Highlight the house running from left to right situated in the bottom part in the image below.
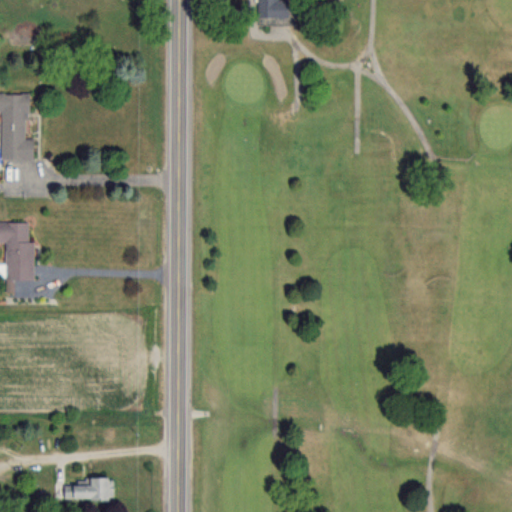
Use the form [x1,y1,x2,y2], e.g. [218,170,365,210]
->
[64,478,116,502]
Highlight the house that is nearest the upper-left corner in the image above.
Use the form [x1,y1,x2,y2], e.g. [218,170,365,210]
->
[0,93,34,161]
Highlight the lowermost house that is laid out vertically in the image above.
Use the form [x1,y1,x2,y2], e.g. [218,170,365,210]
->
[0,222,35,295]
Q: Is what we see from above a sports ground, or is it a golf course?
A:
golf course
